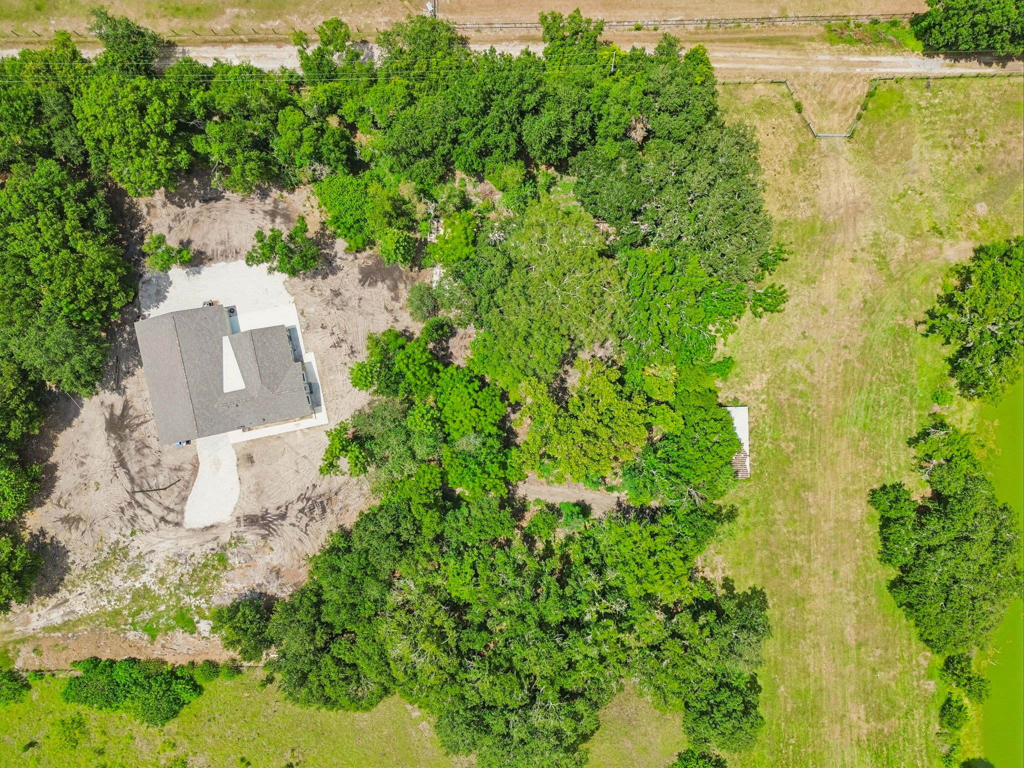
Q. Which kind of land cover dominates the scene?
trees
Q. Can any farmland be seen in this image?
Yes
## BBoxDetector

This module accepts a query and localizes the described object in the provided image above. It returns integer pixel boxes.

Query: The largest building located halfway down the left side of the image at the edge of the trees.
[135,304,316,445]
